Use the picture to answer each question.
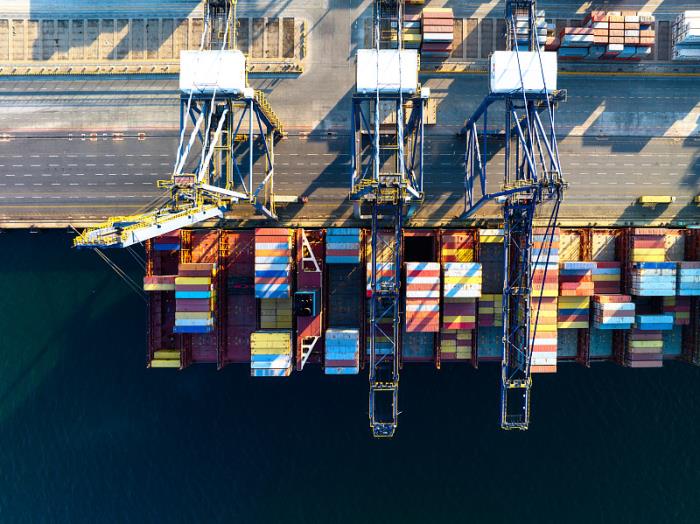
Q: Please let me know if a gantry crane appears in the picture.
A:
Yes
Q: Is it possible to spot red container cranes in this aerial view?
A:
No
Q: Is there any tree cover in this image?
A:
No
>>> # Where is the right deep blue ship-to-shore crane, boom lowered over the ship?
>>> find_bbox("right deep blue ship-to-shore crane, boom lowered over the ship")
[446,0,572,435]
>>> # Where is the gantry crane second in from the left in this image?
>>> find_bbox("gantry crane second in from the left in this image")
[347,0,432,441]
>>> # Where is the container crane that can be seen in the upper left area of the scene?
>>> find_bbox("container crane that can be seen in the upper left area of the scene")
[70,0,293,249]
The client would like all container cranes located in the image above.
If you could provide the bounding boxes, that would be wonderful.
[446,0,572,435]
[347,0,432,441]
[70,0,293,249]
